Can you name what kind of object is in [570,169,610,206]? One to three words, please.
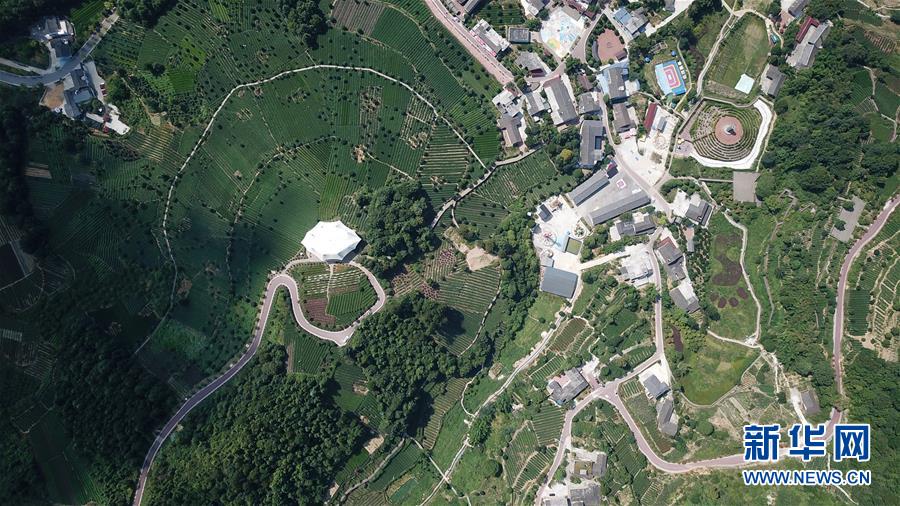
shed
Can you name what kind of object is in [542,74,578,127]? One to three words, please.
building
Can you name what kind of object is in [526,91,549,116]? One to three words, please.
house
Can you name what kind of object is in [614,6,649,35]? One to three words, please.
house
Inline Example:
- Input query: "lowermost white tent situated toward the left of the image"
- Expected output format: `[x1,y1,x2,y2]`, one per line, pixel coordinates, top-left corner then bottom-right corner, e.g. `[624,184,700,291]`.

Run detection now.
[301,220,361,263]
